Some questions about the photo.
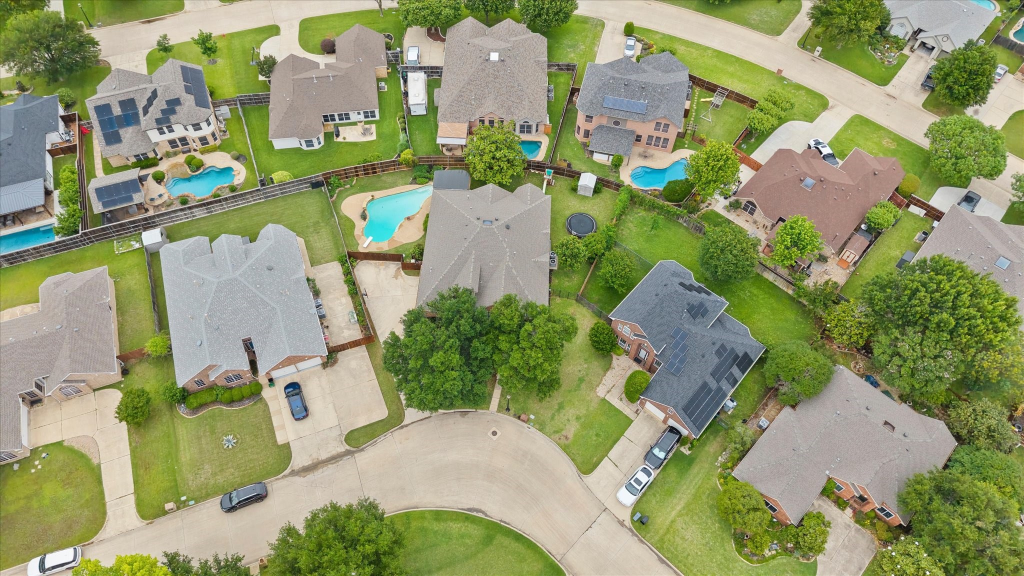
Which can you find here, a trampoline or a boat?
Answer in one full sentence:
This aerial view contains a trampoline.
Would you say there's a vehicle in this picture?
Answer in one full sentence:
Yes, the image includes a vehicle.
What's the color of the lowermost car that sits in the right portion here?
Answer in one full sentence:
In this view, the lowermost car that sits in the right portion is white.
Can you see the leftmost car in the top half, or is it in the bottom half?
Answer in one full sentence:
Seen from above, the leftmost car lies in the bottom half of the view.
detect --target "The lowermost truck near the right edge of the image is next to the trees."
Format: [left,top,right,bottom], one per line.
[958,189,986,214]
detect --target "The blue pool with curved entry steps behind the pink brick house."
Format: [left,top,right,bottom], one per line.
[629,156,694,190]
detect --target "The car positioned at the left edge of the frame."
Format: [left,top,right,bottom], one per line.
[28,543,86,576]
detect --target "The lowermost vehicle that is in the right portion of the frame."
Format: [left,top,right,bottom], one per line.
[616,463,659,510]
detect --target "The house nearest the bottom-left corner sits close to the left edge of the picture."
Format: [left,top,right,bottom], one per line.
[0,266,124,466]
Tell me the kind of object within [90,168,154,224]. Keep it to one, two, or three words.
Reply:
building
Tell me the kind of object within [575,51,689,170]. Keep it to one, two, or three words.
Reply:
house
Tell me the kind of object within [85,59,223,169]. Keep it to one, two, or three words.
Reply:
house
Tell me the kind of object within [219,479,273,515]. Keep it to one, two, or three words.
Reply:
car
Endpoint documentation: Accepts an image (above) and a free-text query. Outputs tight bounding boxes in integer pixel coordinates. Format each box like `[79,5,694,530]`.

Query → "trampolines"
[566,208,597,238]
